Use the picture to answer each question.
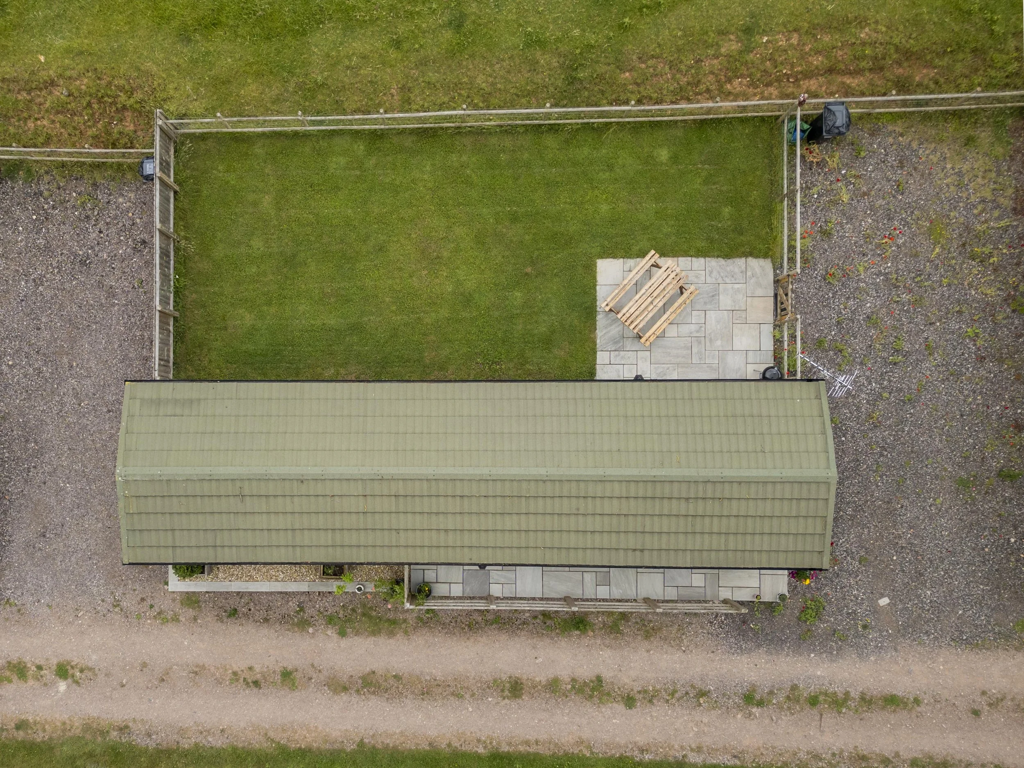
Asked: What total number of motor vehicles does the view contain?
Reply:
0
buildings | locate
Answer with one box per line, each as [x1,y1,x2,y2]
[113,379,839,568]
